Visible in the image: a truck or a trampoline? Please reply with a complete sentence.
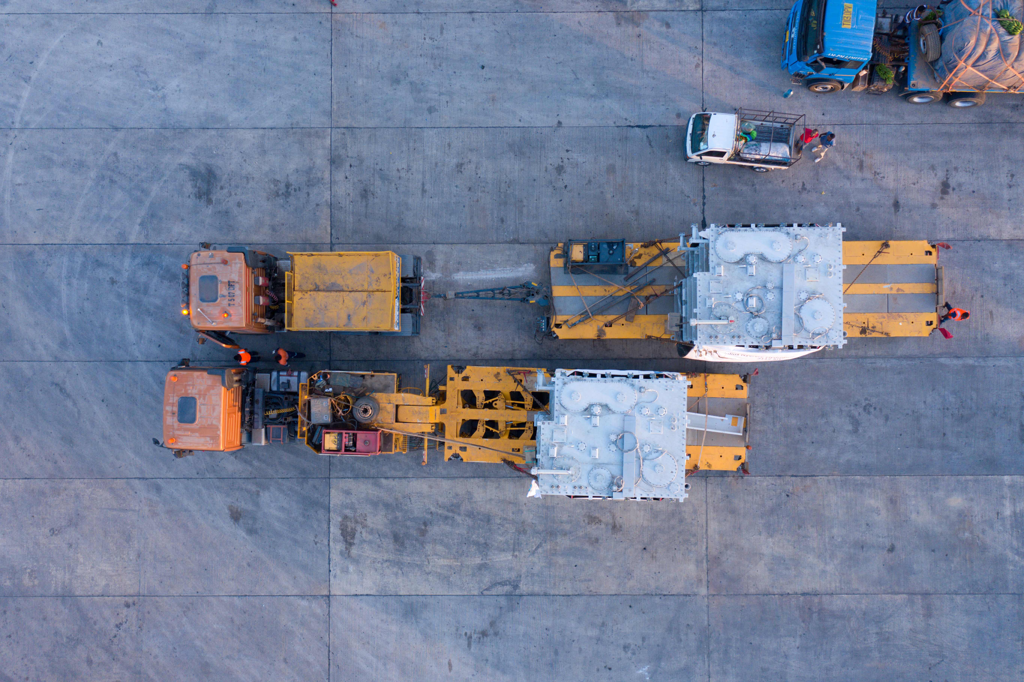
The image shows a truck.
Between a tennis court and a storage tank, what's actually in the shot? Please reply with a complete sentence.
The one in the frame is a storage tank.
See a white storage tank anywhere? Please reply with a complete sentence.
No, no white storage tank can be seen from above.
